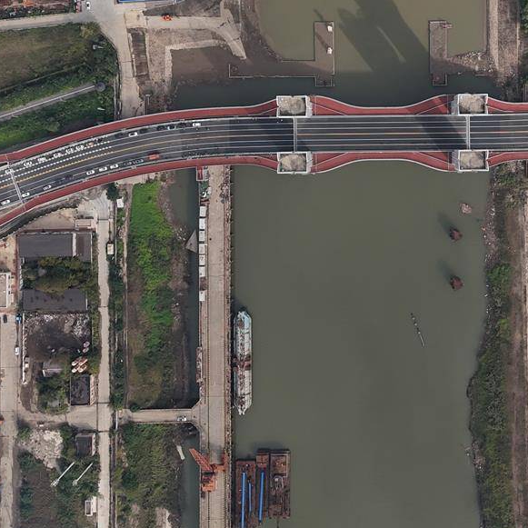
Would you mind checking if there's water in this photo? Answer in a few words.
Yes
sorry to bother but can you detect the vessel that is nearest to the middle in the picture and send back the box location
[234,311,252,416]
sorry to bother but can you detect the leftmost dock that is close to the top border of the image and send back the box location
[229,22,334,86]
